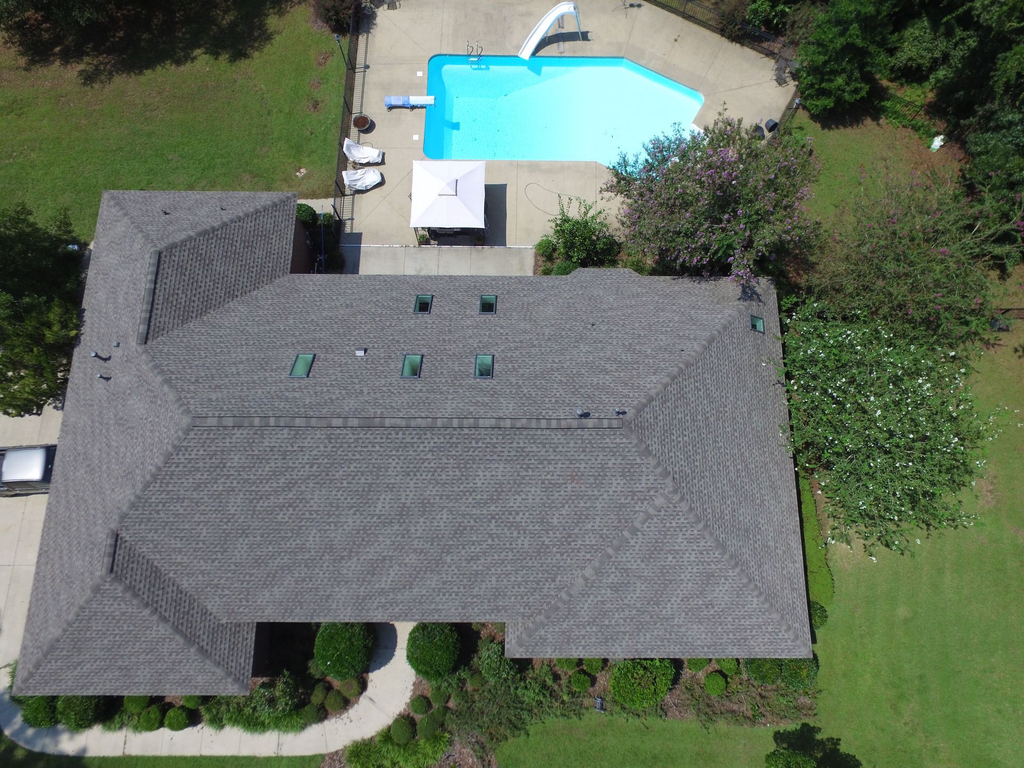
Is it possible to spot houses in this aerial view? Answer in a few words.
Yes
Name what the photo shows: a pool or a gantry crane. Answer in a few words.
pool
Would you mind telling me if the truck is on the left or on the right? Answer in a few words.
left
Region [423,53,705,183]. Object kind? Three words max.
swimming pool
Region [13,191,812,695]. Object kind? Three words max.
house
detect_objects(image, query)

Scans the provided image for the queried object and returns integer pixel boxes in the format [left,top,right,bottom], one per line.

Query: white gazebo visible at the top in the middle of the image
[410,161,485,246]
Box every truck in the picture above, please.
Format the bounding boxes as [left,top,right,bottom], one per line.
[0,442,58,496]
